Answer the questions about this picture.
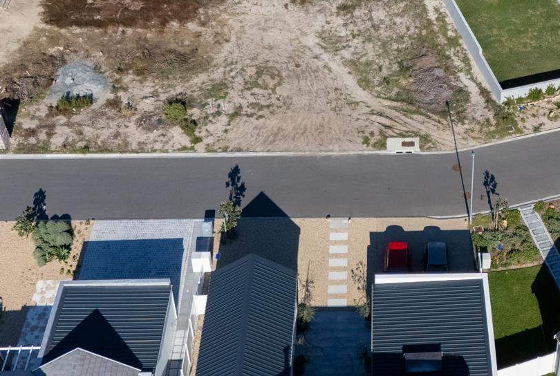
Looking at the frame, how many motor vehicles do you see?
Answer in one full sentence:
The picture shows 2 motor vehicles.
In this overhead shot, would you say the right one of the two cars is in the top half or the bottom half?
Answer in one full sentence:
Seen from above, the right one of the two cars lies in the bottom half of the view.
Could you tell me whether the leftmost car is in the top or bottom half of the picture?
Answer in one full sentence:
Seen from above, the leftmost car lies in the bottom half of the view.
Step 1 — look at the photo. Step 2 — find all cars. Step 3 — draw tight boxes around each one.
[421,245,451,274]
[381,244,411,274]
